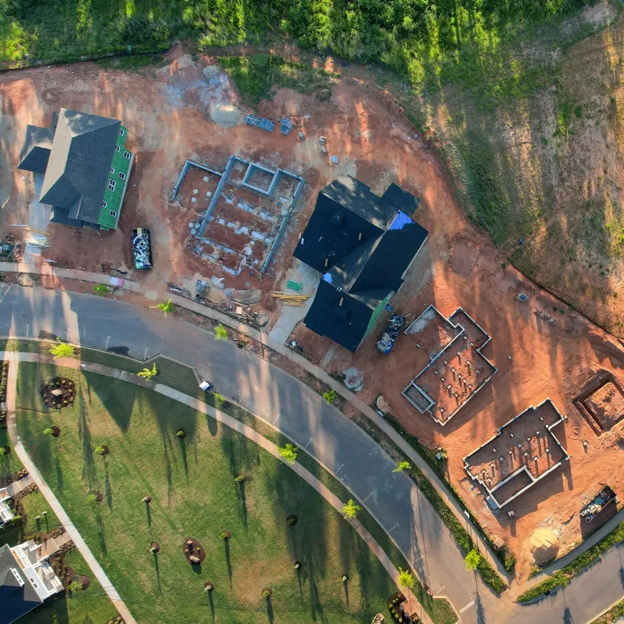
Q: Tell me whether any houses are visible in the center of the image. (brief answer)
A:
Yes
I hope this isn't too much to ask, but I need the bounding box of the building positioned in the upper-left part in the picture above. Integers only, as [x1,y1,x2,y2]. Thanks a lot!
[18,107,136,231]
